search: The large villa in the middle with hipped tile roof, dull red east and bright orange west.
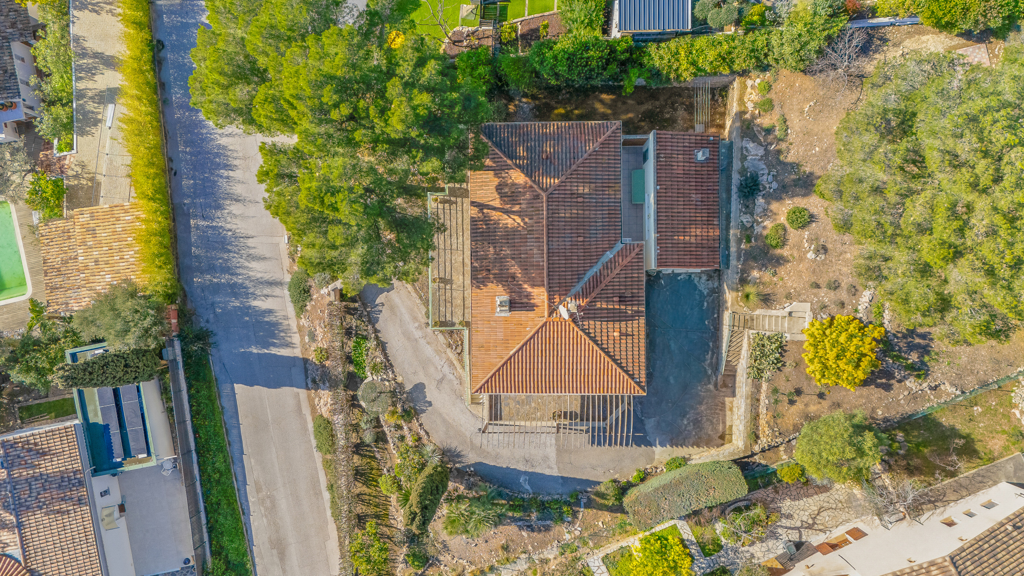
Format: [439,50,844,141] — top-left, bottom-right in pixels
[468,119,648,397]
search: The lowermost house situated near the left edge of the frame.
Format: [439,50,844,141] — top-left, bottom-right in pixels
[0,418,141,576]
